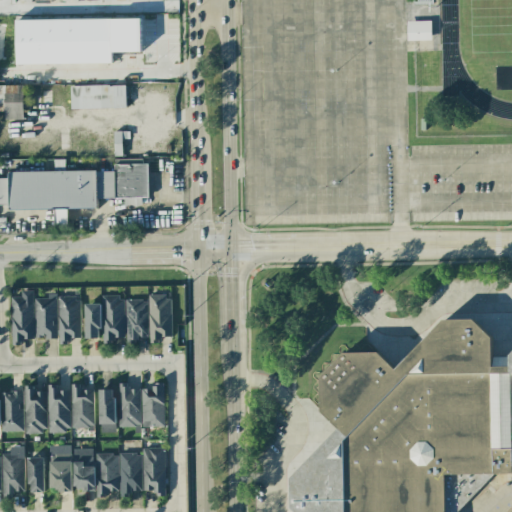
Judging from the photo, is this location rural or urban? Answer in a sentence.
The land in this view is best described as urban.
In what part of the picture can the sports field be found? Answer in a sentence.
You can find the sports field in the top right area of the picture.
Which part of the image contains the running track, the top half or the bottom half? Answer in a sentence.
The top half of the photo is where the running track is.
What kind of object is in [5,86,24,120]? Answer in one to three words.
shed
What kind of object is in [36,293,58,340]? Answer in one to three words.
house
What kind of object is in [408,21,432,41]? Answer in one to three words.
building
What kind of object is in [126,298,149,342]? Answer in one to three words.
house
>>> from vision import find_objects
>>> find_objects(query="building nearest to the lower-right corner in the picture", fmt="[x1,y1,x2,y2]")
[289,318,512,512]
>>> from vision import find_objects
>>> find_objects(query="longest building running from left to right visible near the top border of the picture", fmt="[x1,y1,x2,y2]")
[14,18,142,64]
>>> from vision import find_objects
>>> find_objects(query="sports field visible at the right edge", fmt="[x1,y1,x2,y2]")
[459,0,512,102]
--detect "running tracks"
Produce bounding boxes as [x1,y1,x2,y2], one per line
[442,0,512,120]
